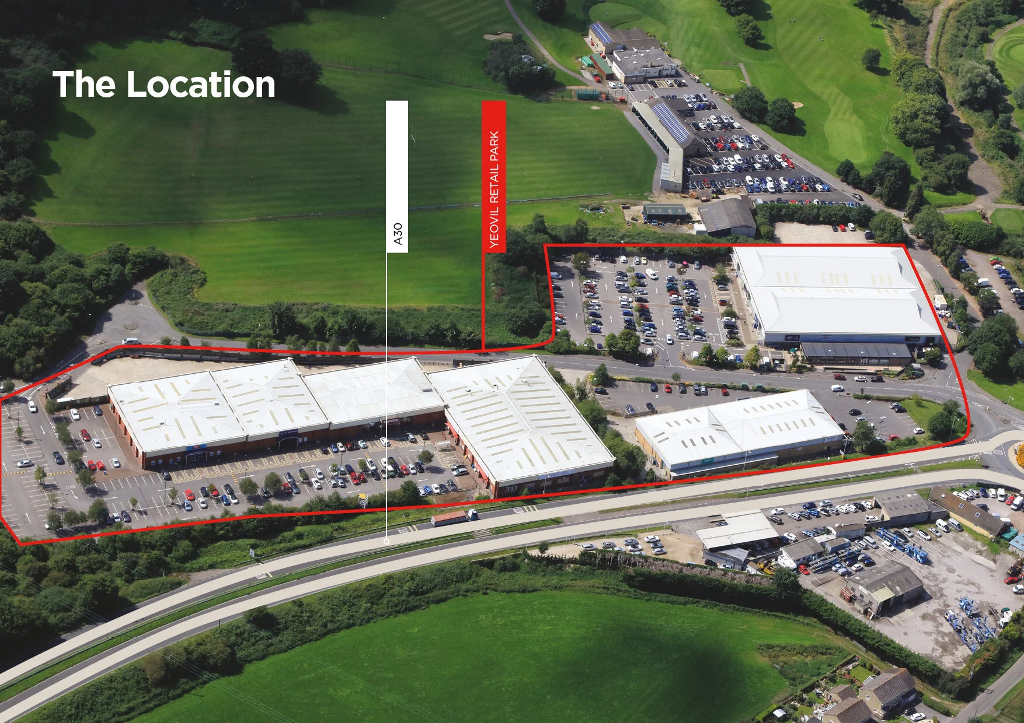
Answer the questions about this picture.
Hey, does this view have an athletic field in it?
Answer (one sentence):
Yes, an athletic field appears in the view.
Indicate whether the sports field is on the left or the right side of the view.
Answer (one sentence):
It is on the left.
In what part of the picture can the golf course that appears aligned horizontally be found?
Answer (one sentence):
Look in the top portion of the view to spot the golf course that appears aligned horizontally.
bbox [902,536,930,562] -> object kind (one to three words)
truck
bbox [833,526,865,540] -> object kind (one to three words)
building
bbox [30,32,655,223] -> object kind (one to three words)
sports field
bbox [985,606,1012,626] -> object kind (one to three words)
vehicle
